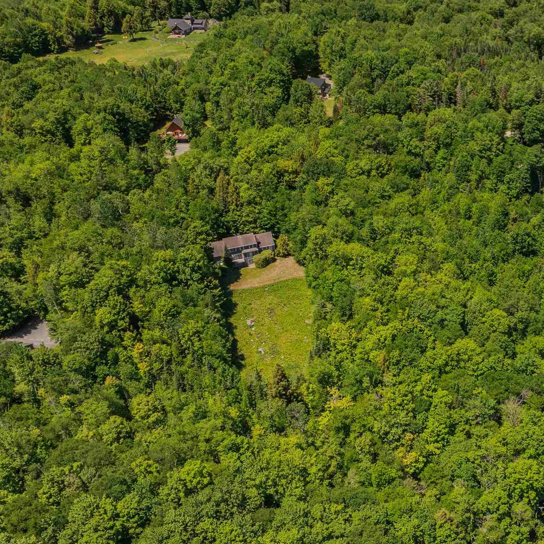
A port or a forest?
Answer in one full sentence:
The area seen from above is a forest.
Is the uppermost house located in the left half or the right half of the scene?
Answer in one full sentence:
The uppermost house is on the left side of the image.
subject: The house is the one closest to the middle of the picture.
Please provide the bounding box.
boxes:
[207,227,275,266]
